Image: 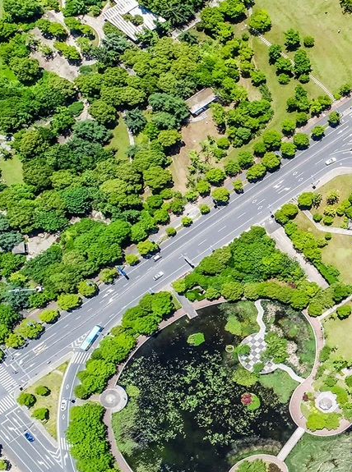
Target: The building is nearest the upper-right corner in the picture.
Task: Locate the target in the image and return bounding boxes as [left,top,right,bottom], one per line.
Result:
[183,86,218,123]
